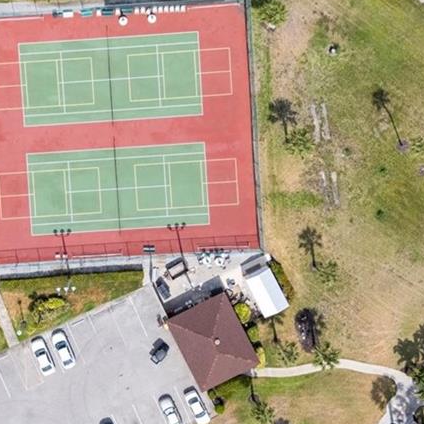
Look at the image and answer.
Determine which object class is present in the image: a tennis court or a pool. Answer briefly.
tennis court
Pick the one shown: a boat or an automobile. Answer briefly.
automobile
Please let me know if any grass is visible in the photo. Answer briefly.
Yes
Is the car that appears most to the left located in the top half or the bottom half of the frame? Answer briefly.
bottom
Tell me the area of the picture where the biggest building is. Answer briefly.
bottom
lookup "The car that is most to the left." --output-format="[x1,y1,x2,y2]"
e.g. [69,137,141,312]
[32,338,56,376]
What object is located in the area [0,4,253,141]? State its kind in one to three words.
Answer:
tennis court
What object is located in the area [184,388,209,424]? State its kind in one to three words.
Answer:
car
